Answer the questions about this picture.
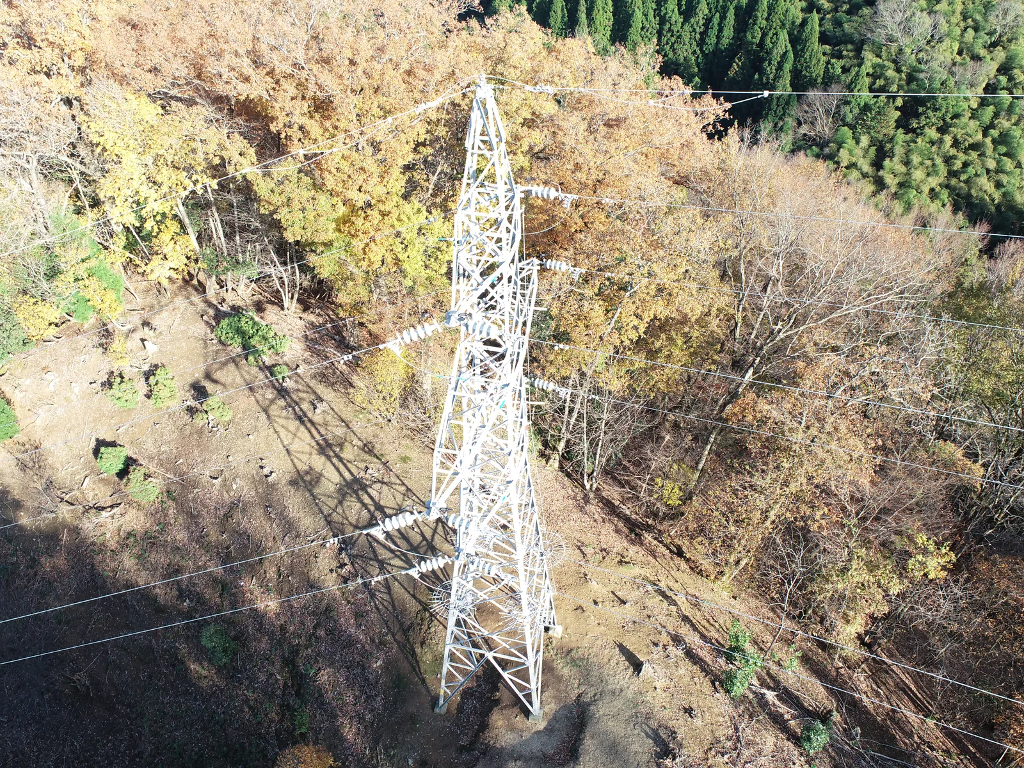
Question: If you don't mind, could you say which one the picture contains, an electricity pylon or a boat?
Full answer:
Visible in the photo is an electricity pylon.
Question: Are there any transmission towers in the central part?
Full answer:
Yes, you'll find a transmission tower in the central part.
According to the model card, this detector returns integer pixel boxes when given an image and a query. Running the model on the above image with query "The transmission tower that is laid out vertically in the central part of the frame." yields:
[416,76,565,730]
